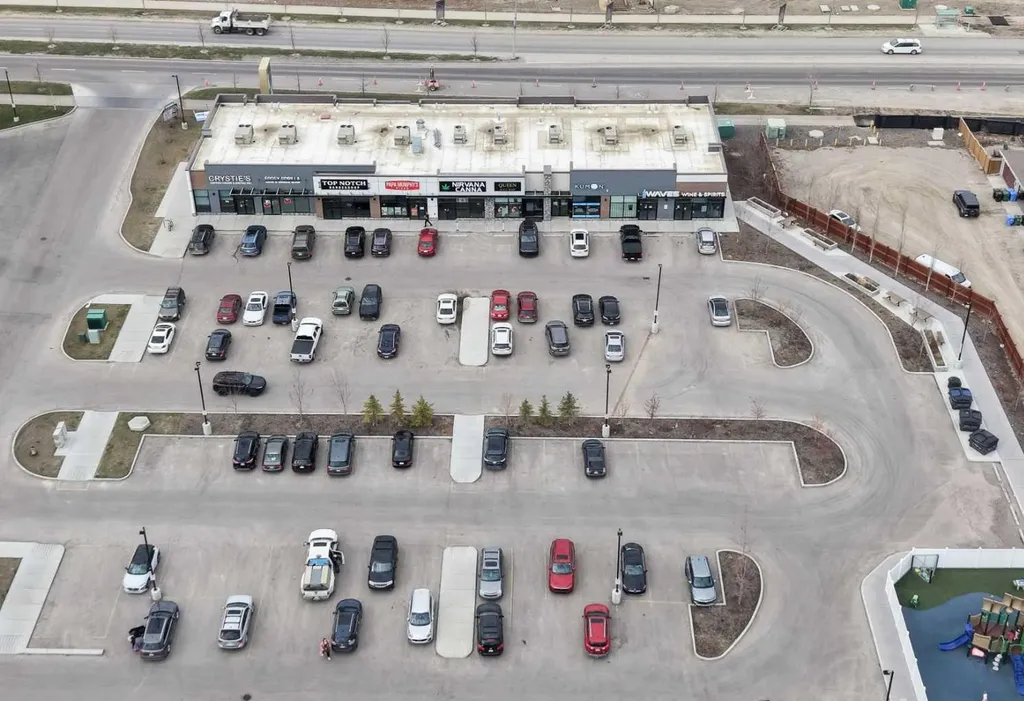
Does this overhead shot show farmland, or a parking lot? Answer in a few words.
parking lot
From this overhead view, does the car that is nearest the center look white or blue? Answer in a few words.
white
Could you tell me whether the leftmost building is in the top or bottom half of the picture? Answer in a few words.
top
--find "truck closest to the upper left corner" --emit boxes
[210,6,270,33]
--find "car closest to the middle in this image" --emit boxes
[490,324,514,357]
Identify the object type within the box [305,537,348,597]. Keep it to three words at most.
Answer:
vehicle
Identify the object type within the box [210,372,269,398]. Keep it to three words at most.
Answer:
car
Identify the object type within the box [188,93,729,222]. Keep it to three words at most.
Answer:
building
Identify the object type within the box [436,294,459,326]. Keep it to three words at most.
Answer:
car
